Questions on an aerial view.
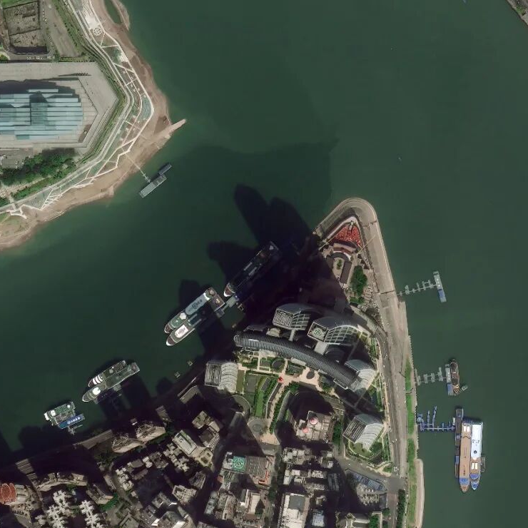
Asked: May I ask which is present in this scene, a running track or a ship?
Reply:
ship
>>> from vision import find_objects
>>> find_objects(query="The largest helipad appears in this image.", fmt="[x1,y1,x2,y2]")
[233,457,245,469]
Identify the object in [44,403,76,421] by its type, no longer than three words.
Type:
ship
